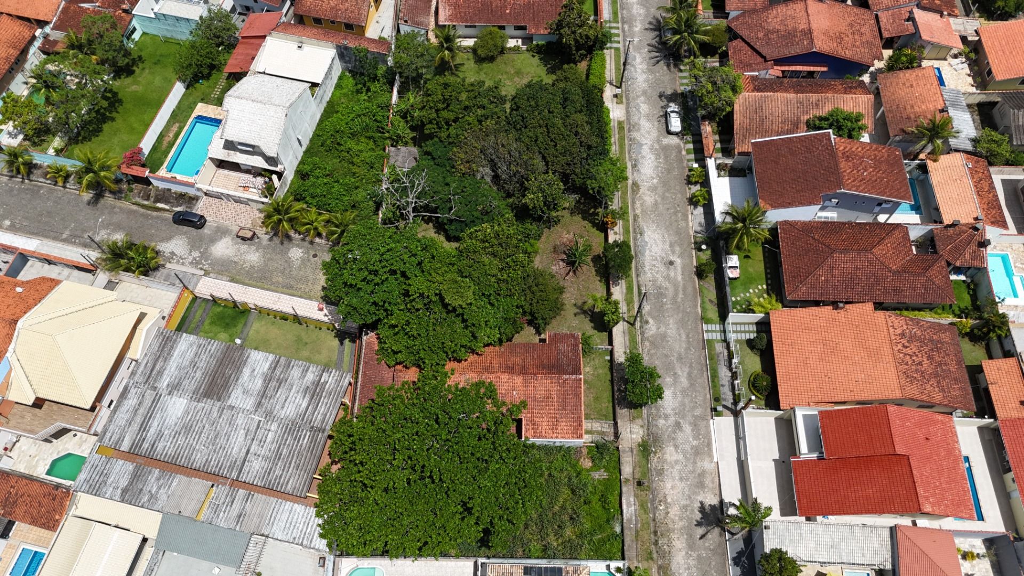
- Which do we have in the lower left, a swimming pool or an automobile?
swimming pool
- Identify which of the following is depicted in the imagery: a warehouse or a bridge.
warehouse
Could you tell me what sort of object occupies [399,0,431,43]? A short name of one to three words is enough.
house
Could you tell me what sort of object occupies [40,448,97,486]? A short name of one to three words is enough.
swimming pool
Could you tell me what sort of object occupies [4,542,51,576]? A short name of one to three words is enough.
swimming pool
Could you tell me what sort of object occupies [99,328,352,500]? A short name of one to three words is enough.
warehouse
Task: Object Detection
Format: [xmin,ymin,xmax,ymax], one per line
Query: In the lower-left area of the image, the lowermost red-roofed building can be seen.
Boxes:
[0,472,82,532]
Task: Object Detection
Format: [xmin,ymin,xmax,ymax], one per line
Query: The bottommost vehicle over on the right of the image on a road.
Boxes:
[664,109,683,138]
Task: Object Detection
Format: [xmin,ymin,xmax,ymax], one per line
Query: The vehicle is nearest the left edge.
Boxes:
[168,209,210,233]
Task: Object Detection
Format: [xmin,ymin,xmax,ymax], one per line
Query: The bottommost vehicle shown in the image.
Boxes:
[724,251,742,283]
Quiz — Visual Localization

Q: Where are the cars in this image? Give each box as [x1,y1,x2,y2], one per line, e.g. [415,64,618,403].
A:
[724,251,742,283]
[659,22,675,47]
[168,209,210,233]
[664,109,683,138]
